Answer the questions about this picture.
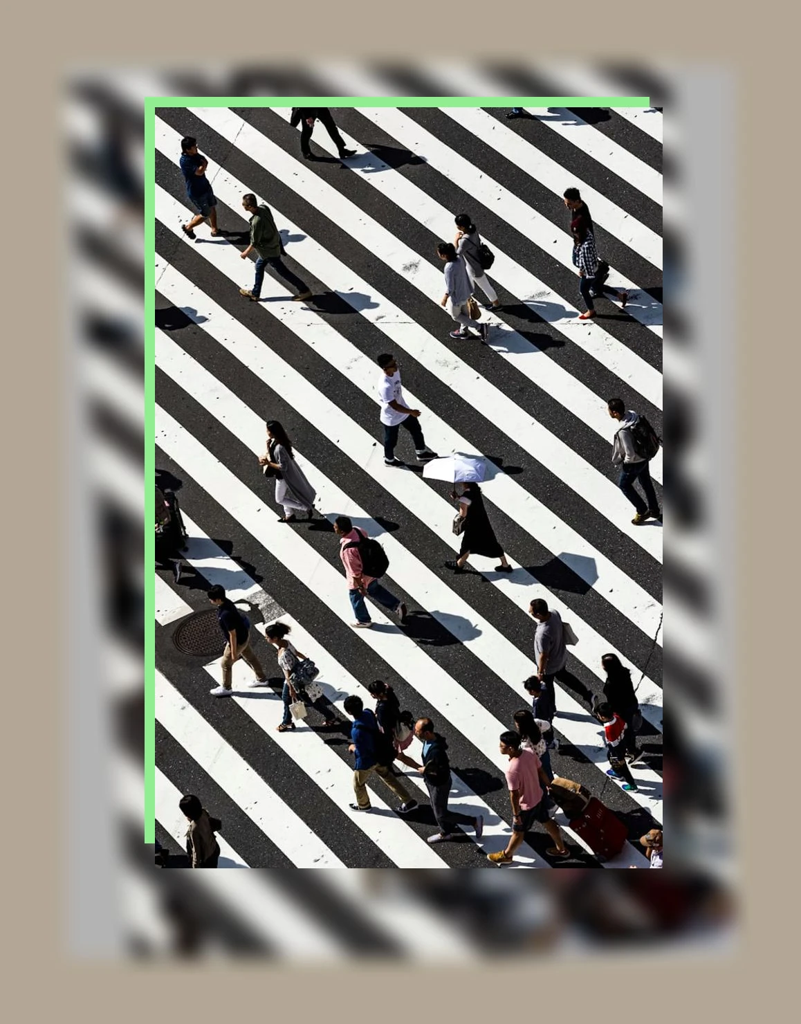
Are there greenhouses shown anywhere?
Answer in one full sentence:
No, the scene contains no greenhouse.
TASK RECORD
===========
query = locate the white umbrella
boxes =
[419,456,490,505]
